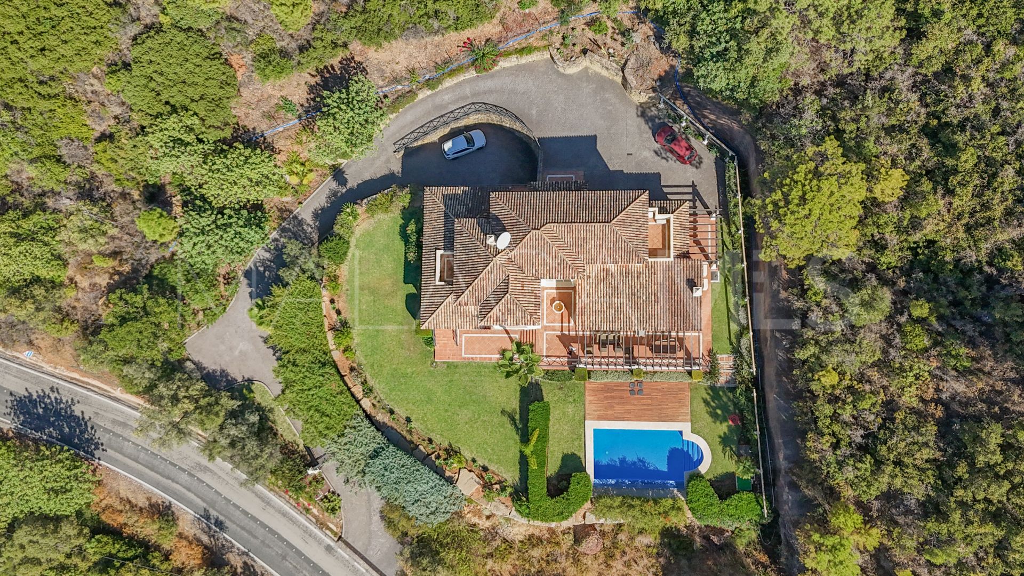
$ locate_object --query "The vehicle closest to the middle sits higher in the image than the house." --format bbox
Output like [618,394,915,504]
[438,127,489,163]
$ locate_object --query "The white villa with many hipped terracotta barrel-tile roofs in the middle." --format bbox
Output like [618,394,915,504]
[419,180,703,335]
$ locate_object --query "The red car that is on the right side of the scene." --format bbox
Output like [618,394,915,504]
[652,124,700,166]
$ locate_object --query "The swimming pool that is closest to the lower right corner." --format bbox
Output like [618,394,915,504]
[585,421,711,497]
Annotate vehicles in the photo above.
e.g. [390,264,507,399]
[652,124,700,166]
[438,127,489,163]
